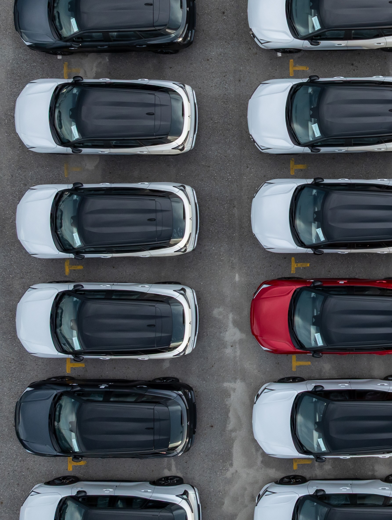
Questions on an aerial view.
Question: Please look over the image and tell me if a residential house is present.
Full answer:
No, I can't see a single residential house in this photo.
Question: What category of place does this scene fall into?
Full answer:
This image shows a parking lot.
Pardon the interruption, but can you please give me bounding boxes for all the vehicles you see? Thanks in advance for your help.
[11,374,197,463]
[14,280,198,364]
[11,0,196,54]
[249,276,392,360]
[252,375,392,466]
[250,174,392,258]
[12,73,198,156]
[17,476,201,520]
[247,73,392,156]
[14,177,199,261]
[254,475,392,520]
[246,0,392,53]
